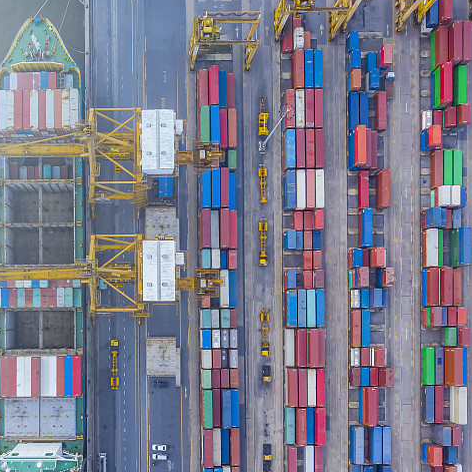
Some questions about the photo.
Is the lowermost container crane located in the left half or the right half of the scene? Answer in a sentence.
It is on the left.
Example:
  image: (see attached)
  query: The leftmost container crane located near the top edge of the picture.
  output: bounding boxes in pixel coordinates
[188,11,261,71]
